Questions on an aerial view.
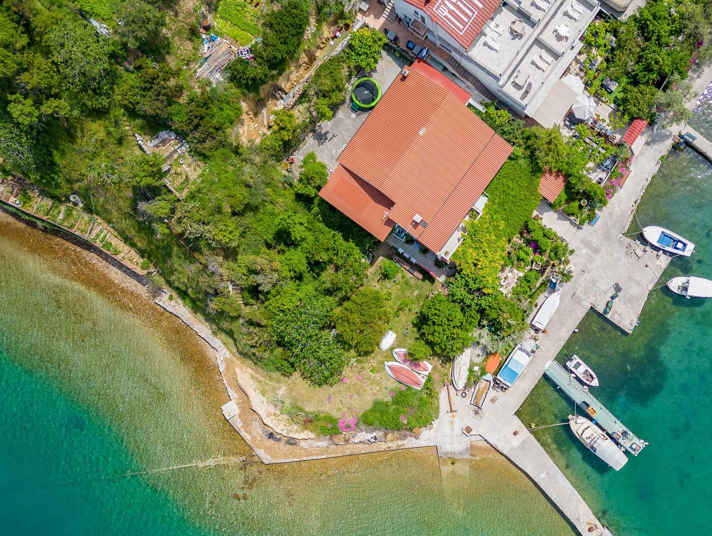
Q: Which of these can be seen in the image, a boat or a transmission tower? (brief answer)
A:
boat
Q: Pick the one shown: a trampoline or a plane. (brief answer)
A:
trampoline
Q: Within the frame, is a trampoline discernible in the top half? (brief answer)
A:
Yes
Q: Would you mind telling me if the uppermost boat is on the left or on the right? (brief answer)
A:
right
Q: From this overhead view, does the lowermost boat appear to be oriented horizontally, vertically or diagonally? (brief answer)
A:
diagonally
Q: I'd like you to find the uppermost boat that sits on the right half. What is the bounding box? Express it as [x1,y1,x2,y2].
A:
[642,227,697,258]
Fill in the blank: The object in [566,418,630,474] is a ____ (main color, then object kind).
white boat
